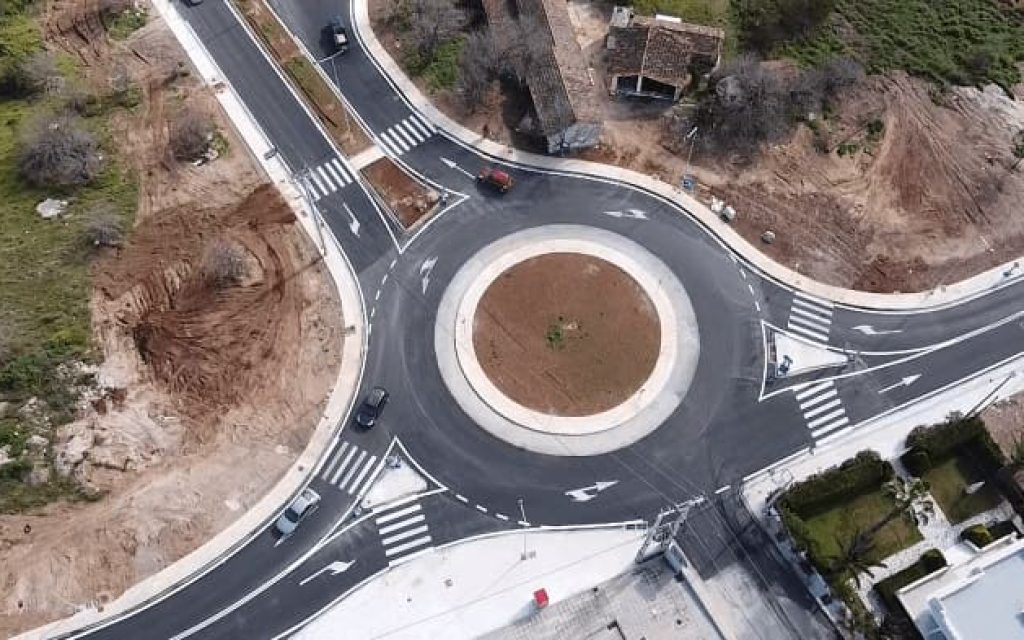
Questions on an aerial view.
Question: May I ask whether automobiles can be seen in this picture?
Yes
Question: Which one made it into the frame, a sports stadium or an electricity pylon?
electricity pylon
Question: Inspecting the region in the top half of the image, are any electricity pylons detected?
No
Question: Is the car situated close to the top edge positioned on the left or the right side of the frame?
left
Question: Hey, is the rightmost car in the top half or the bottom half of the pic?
top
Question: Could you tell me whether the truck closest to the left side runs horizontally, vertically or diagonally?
diagonally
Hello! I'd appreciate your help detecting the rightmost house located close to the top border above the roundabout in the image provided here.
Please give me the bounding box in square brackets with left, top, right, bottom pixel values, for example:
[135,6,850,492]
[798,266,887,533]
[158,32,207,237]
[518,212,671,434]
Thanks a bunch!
[607,12,723,104]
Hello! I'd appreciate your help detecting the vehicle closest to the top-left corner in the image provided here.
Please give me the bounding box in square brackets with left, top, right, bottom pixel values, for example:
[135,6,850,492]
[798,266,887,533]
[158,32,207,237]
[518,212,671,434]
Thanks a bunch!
[327,25,349,52]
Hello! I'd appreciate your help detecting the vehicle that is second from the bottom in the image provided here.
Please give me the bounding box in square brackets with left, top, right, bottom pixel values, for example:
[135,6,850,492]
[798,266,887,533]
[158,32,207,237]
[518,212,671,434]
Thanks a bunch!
[354,385,386,432]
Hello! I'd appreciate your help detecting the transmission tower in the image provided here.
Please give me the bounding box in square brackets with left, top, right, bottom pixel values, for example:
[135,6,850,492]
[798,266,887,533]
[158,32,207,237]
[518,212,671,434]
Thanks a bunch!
[628,493,706,570]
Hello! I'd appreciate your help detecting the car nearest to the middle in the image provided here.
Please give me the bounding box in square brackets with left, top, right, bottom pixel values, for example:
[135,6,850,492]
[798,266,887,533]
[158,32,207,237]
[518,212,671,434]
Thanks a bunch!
[474,168,515,194]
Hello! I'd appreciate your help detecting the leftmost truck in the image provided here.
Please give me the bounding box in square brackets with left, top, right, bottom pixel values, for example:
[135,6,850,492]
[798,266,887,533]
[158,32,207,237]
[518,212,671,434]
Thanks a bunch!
[269,484,320,541]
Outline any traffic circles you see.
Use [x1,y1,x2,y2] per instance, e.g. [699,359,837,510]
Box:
[370,178,764,524]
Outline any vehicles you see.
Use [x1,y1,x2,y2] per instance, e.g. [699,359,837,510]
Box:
[269,484,320,541]
[354,385,386,432]
[474,168,515,194]
[327,25,349,52]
